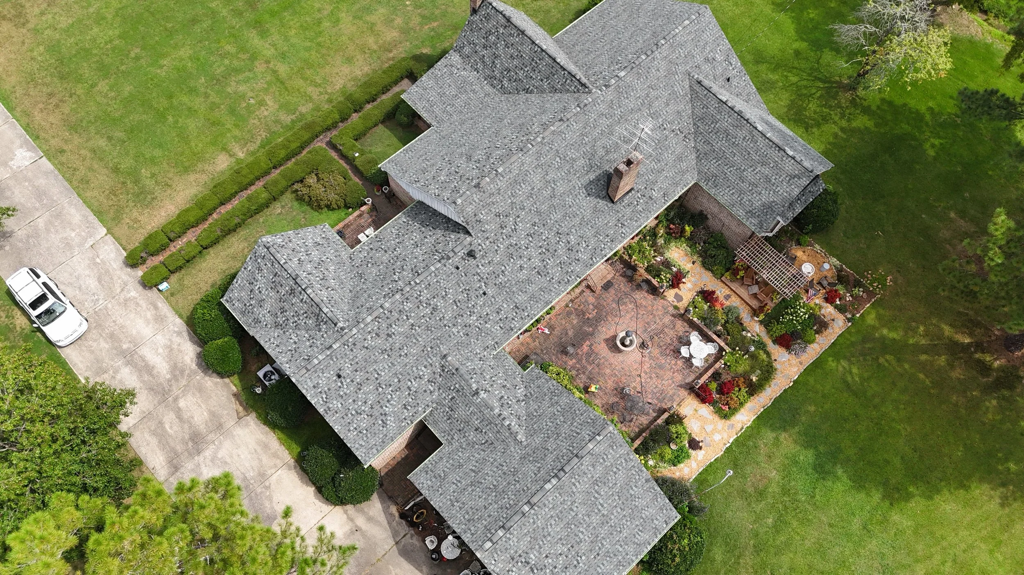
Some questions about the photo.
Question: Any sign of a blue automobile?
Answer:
No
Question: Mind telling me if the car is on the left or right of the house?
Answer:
to the left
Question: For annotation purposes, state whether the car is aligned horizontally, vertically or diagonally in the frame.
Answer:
diagonally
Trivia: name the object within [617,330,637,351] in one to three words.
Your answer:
fountain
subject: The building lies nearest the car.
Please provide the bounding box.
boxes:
[220,0,835,575]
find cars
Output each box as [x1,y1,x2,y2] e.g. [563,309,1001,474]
[7,263,90,348]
